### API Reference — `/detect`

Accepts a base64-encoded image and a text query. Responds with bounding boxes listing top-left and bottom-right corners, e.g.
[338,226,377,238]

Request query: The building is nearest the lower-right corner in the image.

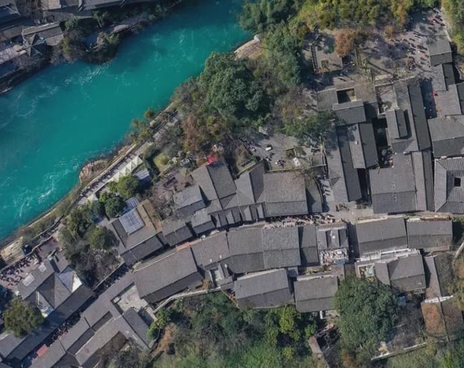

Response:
[421,296,464,339]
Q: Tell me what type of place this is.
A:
residential area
